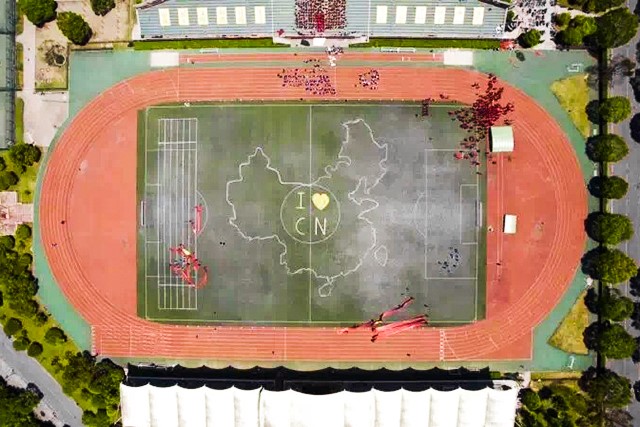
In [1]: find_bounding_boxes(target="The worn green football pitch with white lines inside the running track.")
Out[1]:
[138,98,487,328]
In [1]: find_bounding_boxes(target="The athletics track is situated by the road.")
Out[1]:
[39,68,586,360]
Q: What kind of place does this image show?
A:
sports ground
